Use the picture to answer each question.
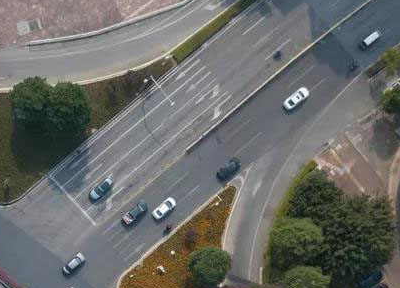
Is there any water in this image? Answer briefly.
No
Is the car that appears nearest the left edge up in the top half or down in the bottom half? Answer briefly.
bottom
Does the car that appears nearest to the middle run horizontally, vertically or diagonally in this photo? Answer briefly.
diagonally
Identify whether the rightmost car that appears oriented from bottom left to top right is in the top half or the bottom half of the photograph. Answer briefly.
top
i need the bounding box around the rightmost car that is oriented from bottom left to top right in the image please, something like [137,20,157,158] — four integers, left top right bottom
[377,75,400,97]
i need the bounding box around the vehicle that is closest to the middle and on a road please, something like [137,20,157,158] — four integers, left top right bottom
[214,157,241,181]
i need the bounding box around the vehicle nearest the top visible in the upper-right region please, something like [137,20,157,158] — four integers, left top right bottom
[356,27,384,51]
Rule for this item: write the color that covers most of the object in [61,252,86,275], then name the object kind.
gray car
